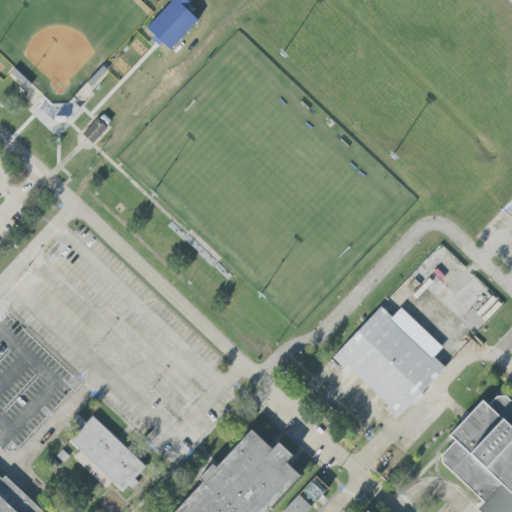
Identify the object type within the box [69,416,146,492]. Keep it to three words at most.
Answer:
building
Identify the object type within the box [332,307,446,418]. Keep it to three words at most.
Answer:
building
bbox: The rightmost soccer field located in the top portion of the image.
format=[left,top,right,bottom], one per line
[118,30,416,327]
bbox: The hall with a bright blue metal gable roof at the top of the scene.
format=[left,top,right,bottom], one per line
[148,0,198,48]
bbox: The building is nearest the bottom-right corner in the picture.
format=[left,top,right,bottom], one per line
[443,396,512,512]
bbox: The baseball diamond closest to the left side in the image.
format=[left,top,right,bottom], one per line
[0,0,153,103]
